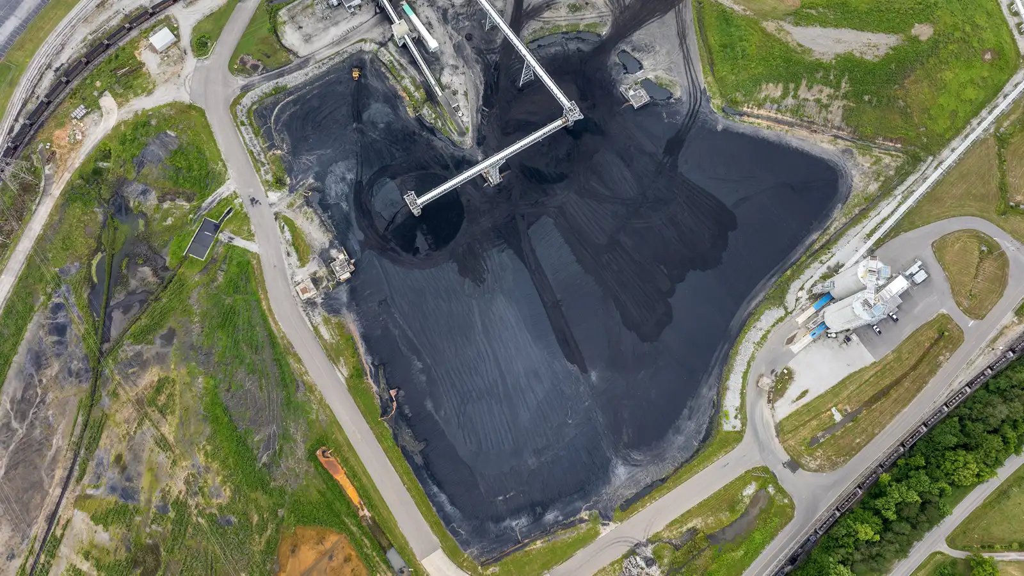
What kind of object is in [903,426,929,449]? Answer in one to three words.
rail car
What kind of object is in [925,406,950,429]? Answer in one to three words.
rail car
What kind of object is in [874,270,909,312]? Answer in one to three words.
building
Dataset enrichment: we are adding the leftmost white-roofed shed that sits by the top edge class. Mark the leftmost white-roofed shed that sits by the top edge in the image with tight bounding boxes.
[149,26,178,55]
